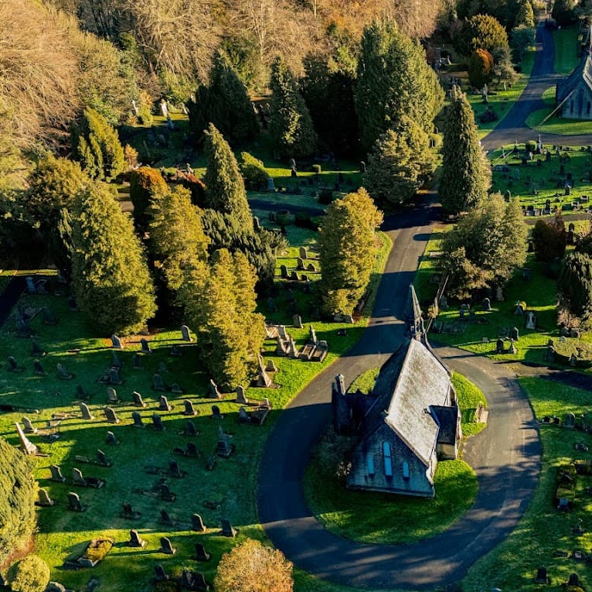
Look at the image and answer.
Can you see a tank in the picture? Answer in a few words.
No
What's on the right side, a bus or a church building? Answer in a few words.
church building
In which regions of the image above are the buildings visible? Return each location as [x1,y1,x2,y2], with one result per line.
[324,276,468,500]
[554,20,592,120]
